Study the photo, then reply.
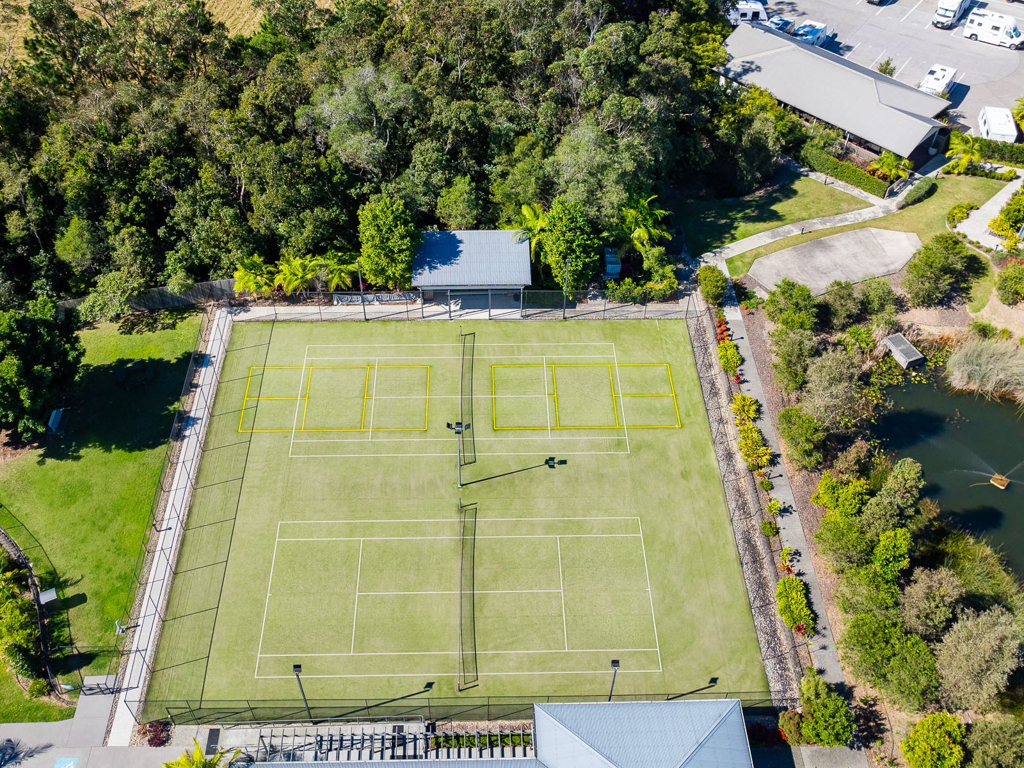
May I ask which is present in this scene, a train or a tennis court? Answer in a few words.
tennis court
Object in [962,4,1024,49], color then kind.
white camper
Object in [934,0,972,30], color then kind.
white camper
